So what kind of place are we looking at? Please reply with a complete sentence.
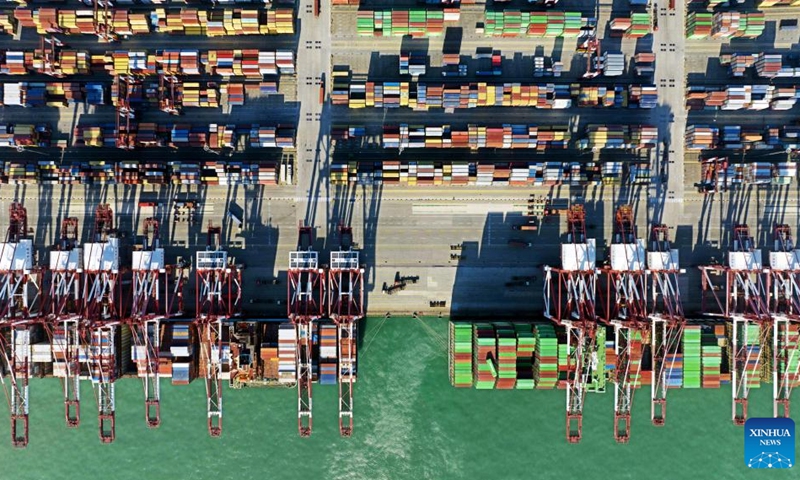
This looks like a port.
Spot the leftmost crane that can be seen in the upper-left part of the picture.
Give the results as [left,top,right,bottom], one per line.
[39,40,73,84]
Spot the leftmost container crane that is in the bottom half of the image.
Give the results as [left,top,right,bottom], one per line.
[0,205,80,444]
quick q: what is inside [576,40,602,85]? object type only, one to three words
container crane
